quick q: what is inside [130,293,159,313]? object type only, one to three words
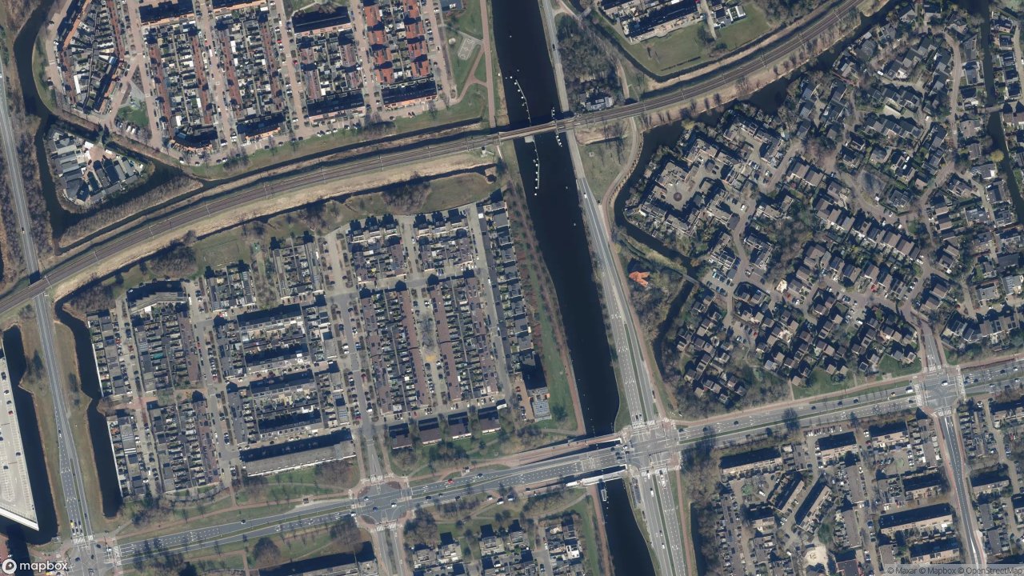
building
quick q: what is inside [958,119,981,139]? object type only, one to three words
house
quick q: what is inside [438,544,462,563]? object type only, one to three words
house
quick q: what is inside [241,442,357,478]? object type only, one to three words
building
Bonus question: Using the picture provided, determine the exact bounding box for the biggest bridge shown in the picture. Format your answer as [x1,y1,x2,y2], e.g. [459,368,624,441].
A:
[497,114,575,145]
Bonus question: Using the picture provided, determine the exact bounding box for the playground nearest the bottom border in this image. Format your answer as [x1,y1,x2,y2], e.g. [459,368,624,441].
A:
[804,546,828,569]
